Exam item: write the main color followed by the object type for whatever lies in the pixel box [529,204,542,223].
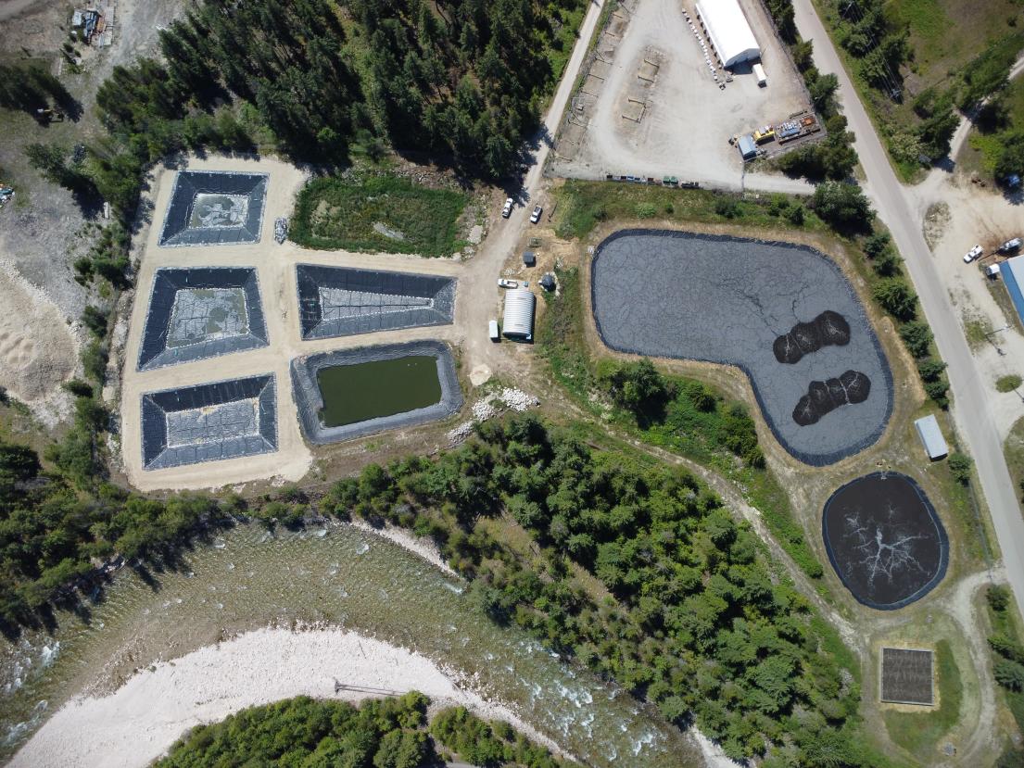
white vehicle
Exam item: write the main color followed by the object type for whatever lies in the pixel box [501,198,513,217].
white vehicle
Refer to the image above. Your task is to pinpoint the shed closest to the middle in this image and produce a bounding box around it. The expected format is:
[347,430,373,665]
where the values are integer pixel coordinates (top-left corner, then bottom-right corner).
[503,290,533,336]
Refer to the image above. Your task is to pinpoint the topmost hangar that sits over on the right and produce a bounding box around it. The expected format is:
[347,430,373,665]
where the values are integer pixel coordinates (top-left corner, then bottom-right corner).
[692,0,760,68]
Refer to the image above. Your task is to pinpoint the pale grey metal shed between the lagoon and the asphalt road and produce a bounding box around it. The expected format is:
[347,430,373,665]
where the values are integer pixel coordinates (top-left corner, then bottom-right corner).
[910,414,948,459]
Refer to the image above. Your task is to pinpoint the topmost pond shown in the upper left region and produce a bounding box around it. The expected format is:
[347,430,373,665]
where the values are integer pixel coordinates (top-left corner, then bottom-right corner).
[157,169,270,247]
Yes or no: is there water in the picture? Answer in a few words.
Yes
